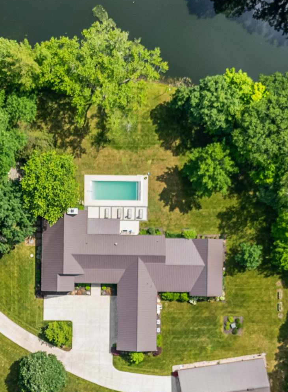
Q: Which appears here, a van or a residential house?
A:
residential house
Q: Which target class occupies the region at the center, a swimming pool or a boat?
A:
swimming pool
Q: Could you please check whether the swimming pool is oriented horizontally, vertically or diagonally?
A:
horizontally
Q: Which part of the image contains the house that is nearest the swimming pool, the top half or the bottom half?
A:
bottom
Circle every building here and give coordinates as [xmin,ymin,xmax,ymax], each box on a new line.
[41,208,224,352]
[177,358,270,392]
